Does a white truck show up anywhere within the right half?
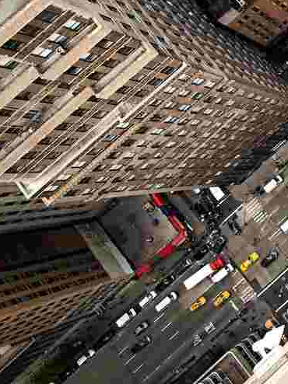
Yes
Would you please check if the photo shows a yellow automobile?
Yes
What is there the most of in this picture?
buildings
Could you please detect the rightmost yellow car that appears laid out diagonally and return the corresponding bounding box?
[240,252,260,271]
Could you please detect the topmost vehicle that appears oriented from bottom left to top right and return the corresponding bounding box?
[261,174,283,195]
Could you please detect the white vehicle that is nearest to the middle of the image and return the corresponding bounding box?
[205,185,230,199]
